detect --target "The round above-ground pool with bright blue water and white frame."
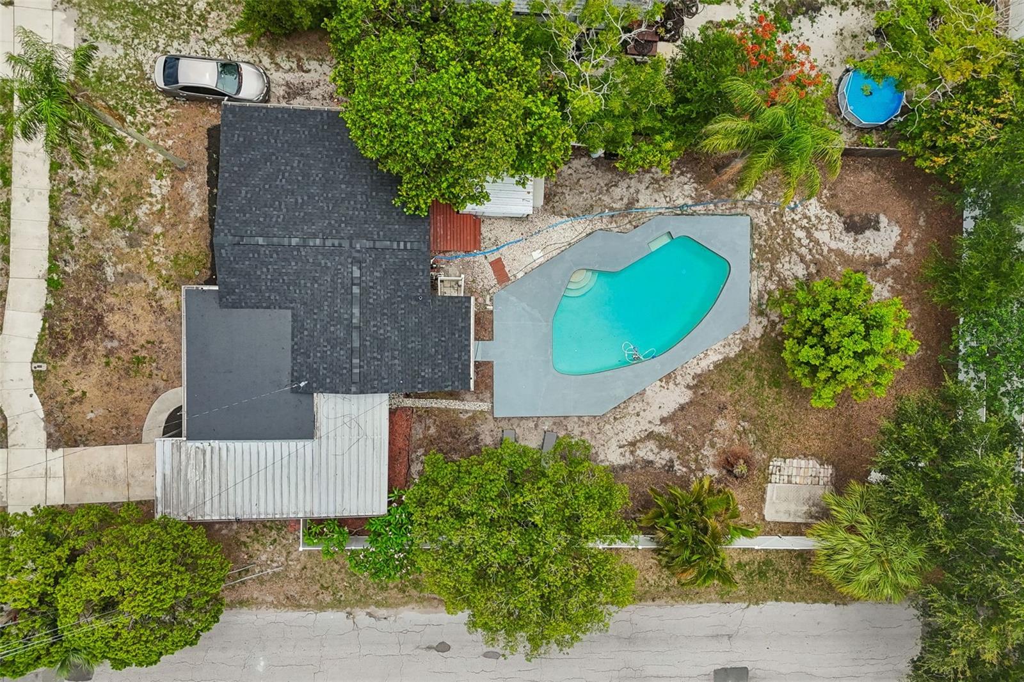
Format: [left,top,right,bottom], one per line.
[825,65,904,138]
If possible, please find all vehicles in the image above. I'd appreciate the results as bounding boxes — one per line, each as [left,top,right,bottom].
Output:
[148,48,273,105]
